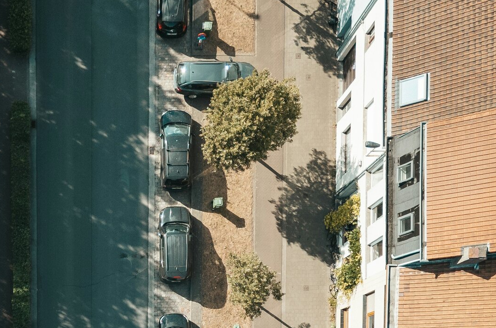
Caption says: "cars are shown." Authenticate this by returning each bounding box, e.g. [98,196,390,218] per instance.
[157,111,195,190]
[173,56,255,99]
[155,206,196,283]
[159,314,191,328]
[157,0,189,37]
